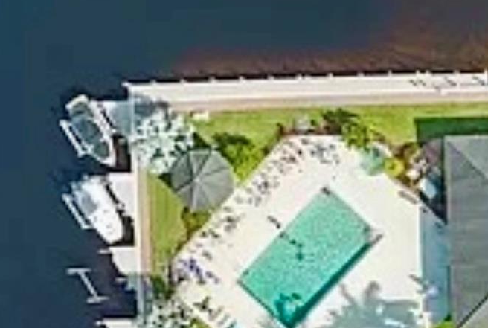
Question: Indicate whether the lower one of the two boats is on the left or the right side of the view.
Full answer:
It is on the left.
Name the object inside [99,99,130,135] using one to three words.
pier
